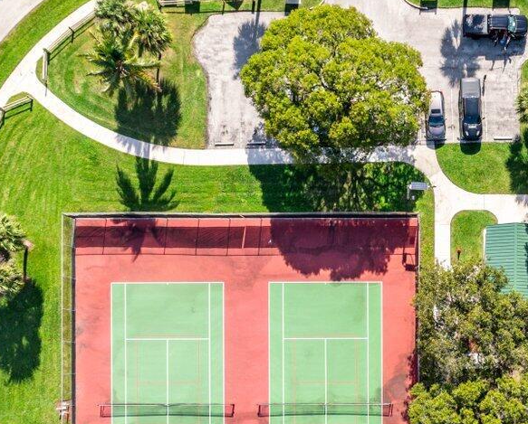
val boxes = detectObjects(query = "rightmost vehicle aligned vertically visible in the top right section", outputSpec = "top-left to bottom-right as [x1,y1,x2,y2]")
[459,77,484,140]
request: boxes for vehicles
[465,9,528,44]
[459,77,484,140]
[424,87,448,139]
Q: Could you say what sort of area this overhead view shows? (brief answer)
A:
sports ground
